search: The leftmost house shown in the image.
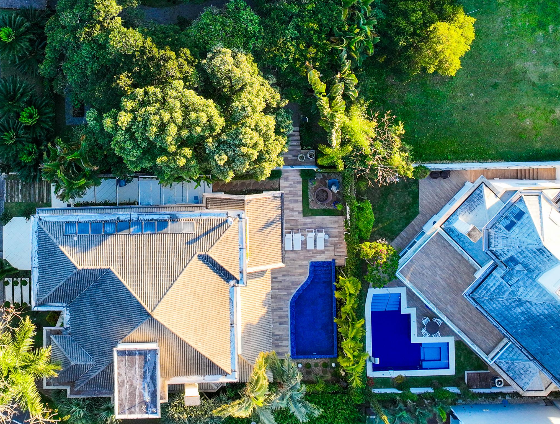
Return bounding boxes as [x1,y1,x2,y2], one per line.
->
[30,183,288,424]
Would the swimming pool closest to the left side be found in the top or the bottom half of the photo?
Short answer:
bottom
